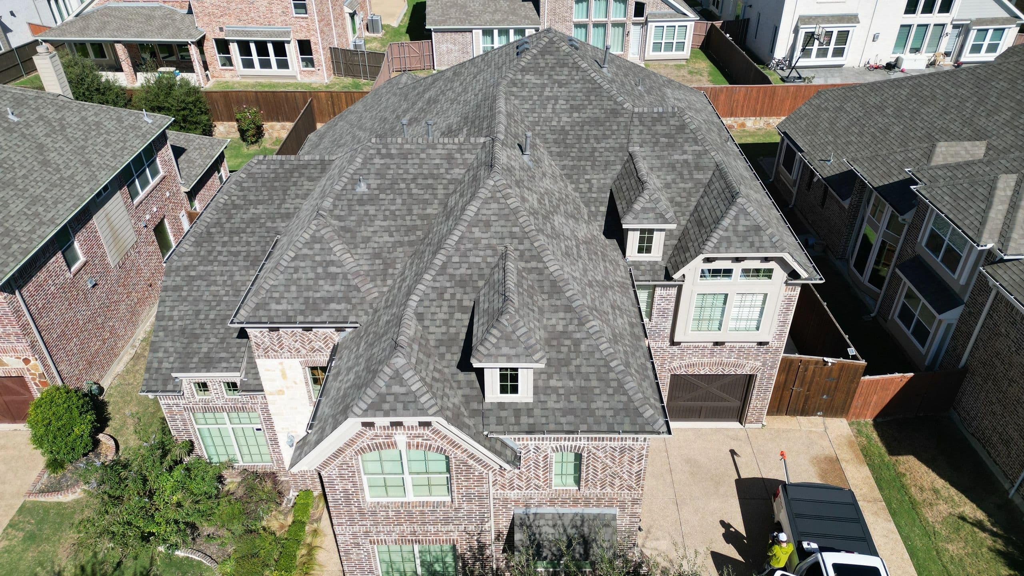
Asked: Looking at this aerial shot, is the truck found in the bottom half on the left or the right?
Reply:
right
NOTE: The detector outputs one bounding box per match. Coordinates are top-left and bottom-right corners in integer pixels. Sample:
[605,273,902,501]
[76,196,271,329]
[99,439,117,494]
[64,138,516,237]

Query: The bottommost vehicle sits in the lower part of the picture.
[772,479,902,576]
